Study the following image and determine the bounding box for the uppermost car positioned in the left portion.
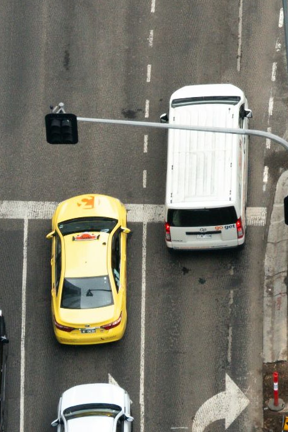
[46,191,140,345]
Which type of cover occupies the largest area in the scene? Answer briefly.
paved ground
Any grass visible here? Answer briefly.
No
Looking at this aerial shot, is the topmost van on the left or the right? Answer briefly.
right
